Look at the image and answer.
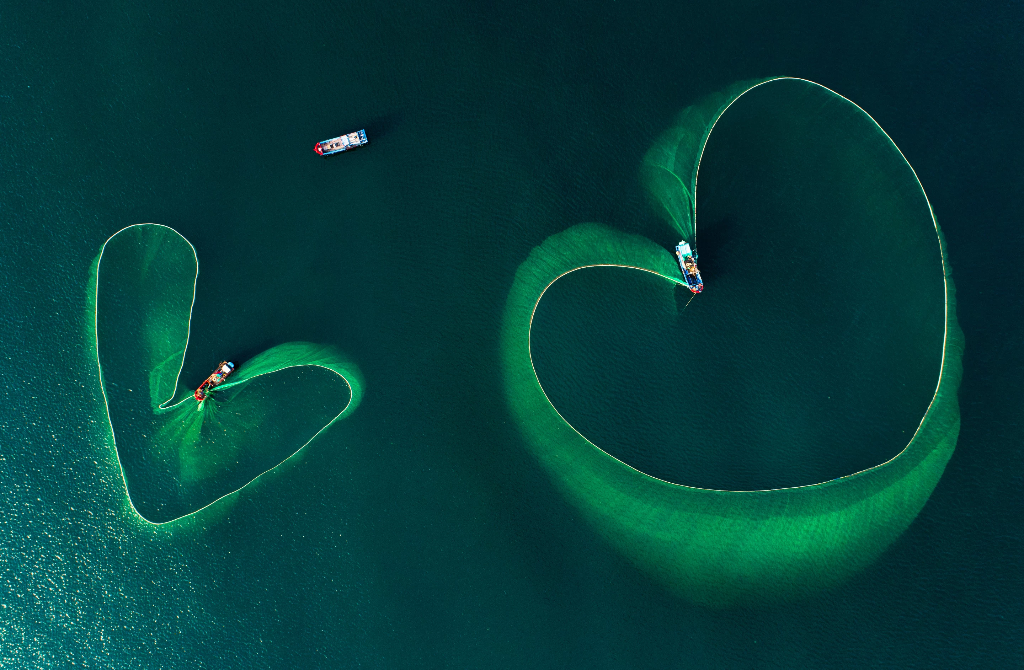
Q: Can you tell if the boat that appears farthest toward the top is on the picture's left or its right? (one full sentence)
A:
The boat that appears farthest toward the top sits on the left side.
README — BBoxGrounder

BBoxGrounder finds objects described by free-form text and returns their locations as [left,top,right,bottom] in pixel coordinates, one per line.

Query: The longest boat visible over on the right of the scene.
[676,243,703,308]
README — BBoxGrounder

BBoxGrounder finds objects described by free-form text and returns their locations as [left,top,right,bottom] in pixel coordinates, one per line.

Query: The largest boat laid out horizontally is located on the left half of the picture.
[312,130,368,154]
